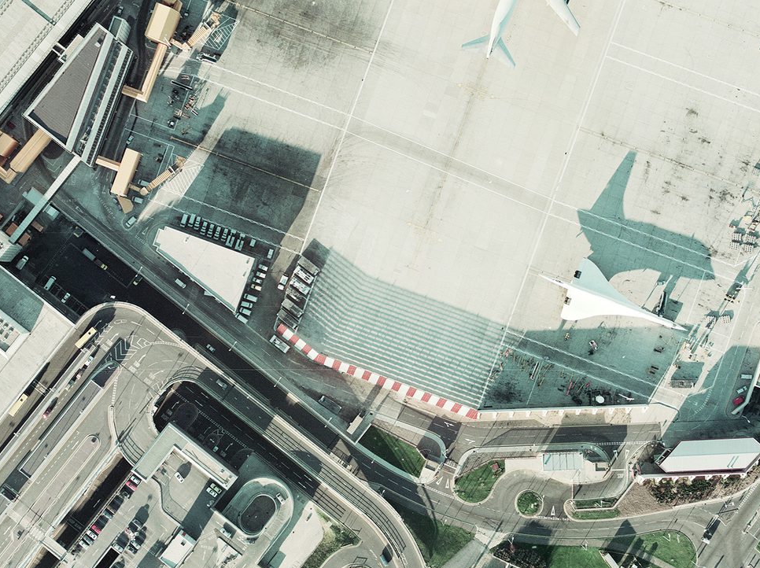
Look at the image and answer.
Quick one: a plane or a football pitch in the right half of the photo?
plane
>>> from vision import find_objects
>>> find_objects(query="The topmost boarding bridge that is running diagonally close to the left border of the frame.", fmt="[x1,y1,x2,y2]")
[10,130,54,173]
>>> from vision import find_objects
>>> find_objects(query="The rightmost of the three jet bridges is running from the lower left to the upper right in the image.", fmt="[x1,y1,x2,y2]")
[169,9,220,52]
